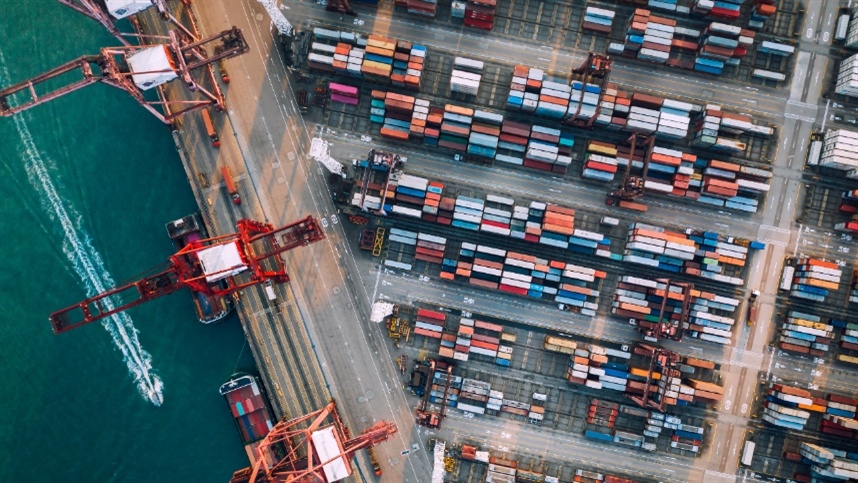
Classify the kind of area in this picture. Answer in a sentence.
This looks like a port.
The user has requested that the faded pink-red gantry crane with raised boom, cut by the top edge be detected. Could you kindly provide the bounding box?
[35,0,208,52]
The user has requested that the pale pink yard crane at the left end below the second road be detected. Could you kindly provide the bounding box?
[357,147,401,216]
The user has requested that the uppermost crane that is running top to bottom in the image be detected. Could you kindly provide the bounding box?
[566,52,612,127]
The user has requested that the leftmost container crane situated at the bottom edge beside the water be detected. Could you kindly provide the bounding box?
[200,391,398,483]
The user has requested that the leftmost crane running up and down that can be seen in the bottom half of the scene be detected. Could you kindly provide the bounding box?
[416,356,454,427]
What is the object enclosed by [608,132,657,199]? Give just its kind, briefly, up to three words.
crane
